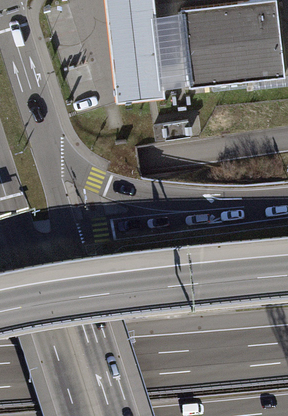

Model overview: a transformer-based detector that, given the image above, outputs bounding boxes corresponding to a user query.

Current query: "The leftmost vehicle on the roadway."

[10,20,25,48]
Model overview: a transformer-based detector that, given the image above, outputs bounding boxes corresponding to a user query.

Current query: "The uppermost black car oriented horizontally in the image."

[114,184,136,196]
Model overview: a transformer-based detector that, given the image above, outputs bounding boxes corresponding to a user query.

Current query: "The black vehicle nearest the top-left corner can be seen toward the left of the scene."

[32,98,44,123]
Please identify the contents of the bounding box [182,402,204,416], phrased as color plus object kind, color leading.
white vehicle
